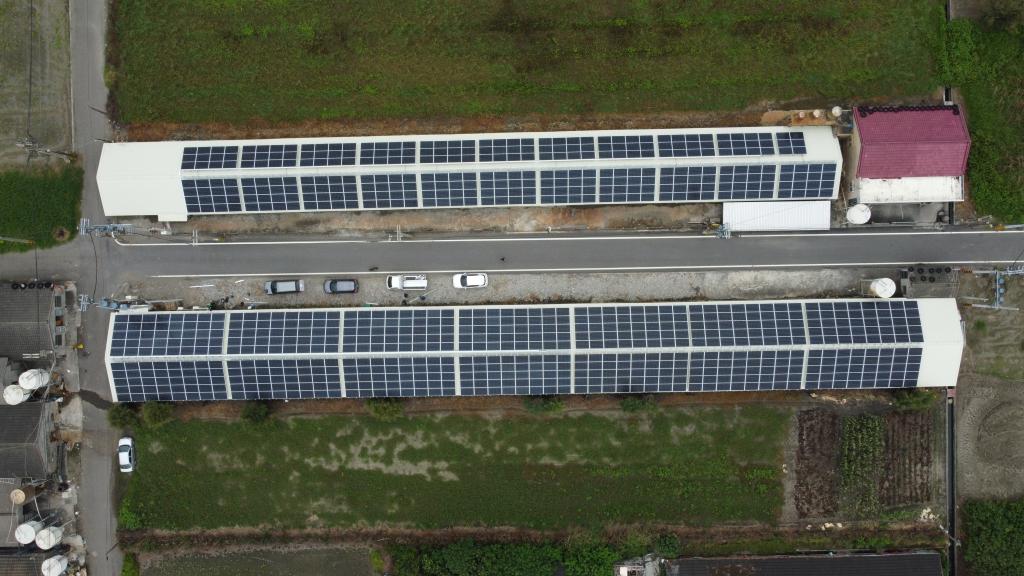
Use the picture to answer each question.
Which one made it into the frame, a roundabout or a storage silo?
storage silo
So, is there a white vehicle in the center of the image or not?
Yes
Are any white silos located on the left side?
Yes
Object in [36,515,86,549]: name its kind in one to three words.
silo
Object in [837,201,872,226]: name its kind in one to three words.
silo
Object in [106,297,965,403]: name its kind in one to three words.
barn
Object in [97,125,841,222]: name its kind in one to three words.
barn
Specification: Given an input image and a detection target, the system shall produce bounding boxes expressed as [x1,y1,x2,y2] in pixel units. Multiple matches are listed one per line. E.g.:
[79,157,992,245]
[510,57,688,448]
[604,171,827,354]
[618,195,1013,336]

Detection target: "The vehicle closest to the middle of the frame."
[452,272,488,290]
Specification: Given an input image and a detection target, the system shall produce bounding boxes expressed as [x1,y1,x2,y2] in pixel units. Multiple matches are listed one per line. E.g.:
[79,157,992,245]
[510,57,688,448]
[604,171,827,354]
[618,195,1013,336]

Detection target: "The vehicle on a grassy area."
[116,435,136,473]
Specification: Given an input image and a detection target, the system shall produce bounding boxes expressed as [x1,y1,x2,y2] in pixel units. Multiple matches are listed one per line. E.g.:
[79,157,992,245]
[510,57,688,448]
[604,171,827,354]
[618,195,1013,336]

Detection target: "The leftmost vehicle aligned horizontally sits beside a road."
[266,278,305,295]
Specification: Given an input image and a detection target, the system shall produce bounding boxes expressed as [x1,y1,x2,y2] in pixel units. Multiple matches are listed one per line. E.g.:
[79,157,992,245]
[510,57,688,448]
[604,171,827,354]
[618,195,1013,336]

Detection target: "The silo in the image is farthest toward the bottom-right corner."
[859,277,897,299]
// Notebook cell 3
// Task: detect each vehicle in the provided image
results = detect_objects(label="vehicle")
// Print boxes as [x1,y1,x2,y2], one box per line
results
[266,278,305,295]
[386,274,428,291]
[324,278,359,295]
[116,435,136,473]
[452,272,488,290]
